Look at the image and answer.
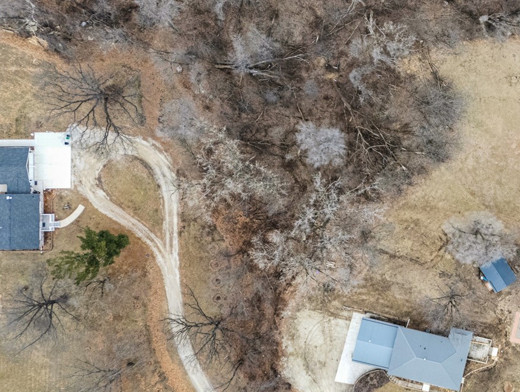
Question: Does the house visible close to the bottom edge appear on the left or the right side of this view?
right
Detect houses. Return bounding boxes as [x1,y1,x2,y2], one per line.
[351,317,473,392]
[0,147,44,249]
